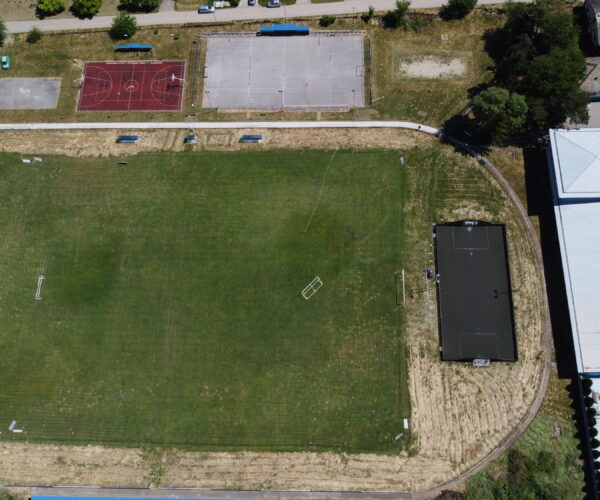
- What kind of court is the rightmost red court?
basketball court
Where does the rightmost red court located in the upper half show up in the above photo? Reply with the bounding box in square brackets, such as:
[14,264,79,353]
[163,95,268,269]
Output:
[76,59,186,113]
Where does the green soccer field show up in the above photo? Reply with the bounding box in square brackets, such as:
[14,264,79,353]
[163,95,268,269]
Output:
[0,151,412,455]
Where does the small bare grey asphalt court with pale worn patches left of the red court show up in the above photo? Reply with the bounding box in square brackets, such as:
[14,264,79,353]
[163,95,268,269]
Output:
[0,77,62,109]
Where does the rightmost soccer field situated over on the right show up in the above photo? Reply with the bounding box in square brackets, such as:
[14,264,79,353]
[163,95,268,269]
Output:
[435,224,517,360]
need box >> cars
[472,360,491,369]
[0,56,9,70]
[213,0,224,9]
[197,6,214,15]
[266,1,281,9]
